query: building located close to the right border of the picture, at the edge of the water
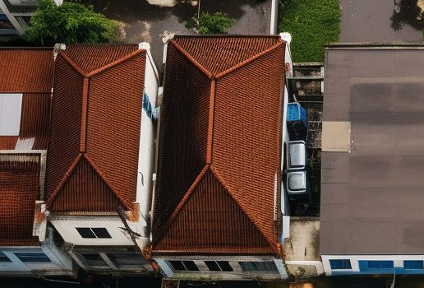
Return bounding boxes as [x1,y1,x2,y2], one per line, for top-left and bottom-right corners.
[320,49,424,276]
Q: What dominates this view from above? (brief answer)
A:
buildings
